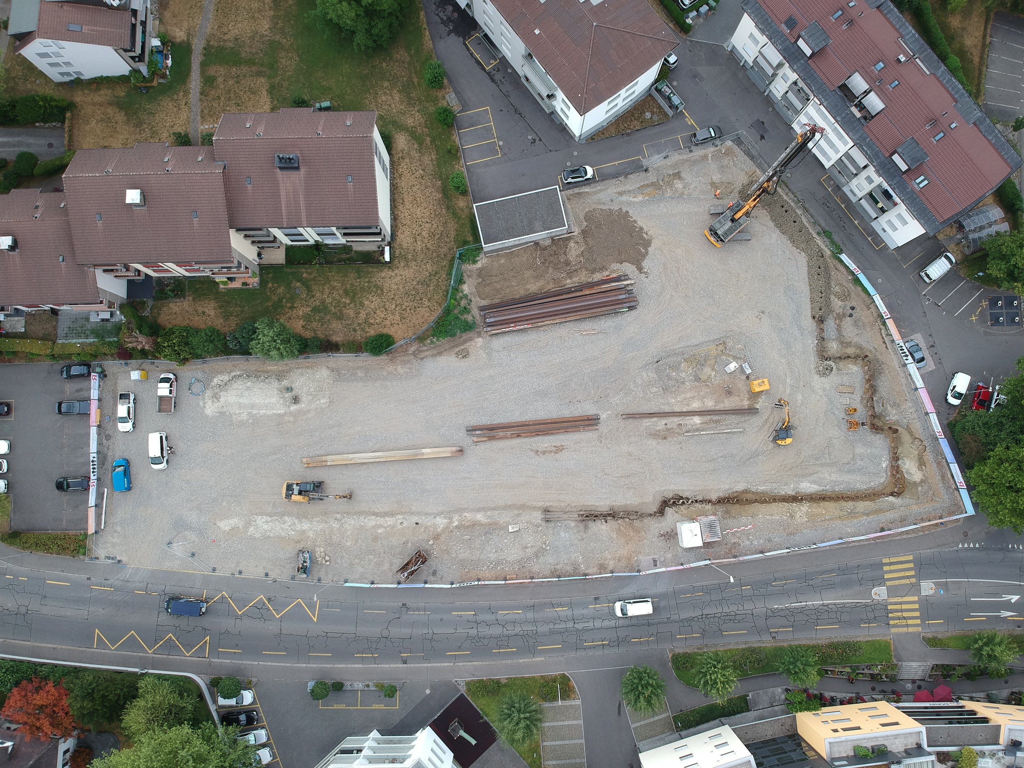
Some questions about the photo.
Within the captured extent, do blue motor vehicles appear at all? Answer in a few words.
Yes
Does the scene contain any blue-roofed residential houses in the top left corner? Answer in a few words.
No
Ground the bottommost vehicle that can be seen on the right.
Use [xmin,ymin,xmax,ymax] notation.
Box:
[613,598,653,618]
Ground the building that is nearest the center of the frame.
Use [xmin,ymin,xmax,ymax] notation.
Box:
[467,184,569,255]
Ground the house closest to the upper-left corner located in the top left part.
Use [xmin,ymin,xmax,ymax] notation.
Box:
[8,0,157,82]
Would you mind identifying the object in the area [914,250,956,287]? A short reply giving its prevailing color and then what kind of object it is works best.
white van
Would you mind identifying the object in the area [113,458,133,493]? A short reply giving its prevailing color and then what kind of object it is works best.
blue vehicle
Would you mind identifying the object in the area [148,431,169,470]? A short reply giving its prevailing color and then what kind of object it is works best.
white vehicle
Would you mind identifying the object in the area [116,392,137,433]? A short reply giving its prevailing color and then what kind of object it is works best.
white truck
